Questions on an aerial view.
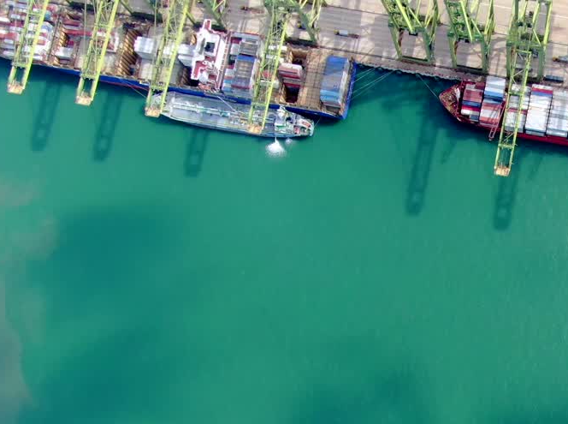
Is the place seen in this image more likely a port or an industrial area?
port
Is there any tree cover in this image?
No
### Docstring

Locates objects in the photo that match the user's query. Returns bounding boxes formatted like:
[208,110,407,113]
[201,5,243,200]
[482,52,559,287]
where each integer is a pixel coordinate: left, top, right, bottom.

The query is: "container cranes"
[492,0,558,180]
[2,0,116,94]
[442,0,504,75]
[241,0,337,136]
[139,0,237,118]
[378,0,448,65]
[71,0,176,106]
